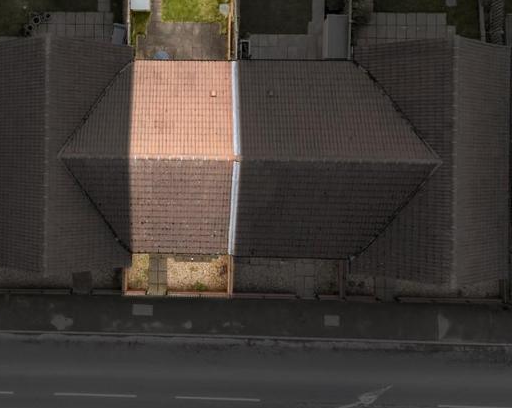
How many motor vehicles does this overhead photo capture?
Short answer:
0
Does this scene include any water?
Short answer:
No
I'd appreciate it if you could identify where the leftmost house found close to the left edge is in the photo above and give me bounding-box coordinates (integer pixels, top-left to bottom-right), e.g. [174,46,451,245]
[0,35,135,278]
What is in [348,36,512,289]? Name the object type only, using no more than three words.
house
